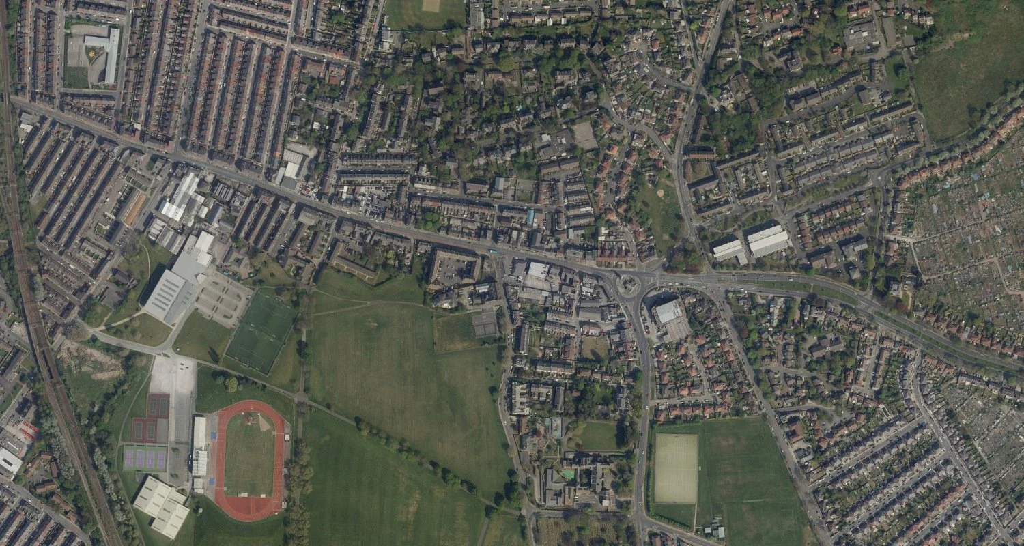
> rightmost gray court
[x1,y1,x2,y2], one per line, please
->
[473,313,498,337]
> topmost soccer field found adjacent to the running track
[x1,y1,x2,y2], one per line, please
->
[224,290,300,376]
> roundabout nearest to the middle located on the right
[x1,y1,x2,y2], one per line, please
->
[609,266,649,306]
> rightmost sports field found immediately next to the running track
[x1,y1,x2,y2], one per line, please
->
[296,400,486,546]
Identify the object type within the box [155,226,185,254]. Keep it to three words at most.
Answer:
shed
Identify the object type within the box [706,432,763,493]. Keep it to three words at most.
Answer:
soccer field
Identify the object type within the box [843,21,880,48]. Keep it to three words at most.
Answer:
building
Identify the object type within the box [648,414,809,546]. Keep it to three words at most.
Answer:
sports field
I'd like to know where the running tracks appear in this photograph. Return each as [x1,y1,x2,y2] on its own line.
[214,400,285,523]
